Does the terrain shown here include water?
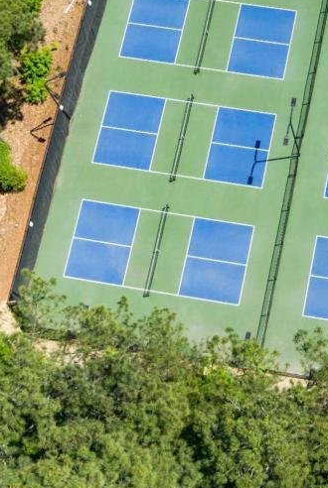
No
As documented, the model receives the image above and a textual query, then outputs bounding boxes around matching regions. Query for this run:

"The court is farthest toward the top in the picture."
[119,0,298,79]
